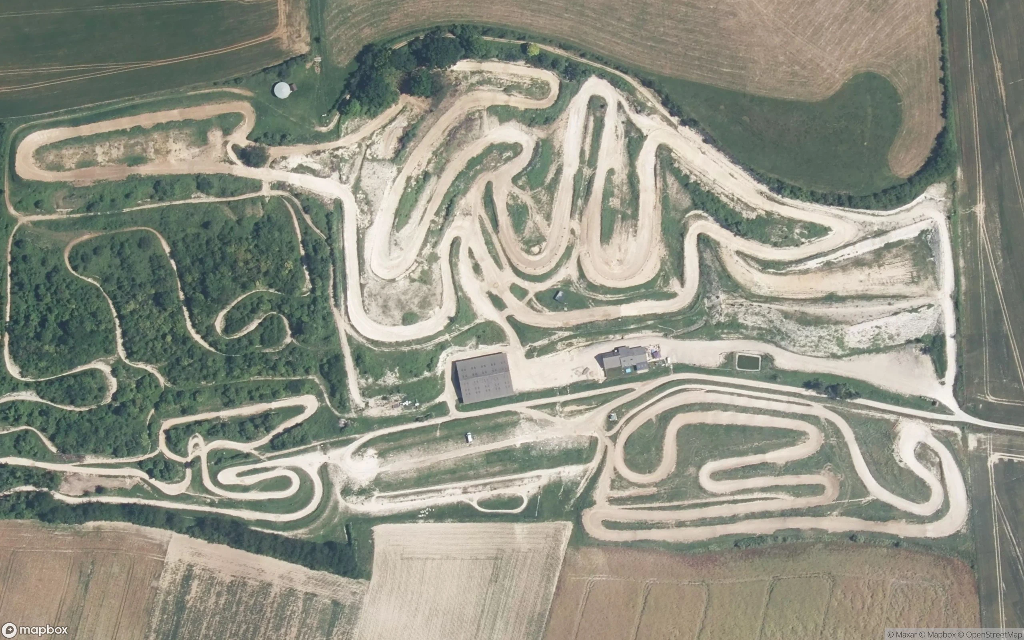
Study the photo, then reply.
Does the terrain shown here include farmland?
Yes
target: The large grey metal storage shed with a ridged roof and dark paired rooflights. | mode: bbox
[456,353,513,404]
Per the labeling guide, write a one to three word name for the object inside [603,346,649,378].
house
